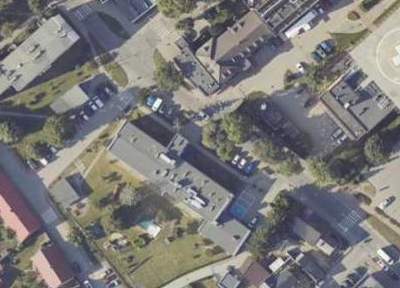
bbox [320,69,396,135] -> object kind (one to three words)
building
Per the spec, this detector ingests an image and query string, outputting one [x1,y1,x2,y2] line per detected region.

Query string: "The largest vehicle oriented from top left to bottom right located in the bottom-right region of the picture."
[376,247,392,263]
